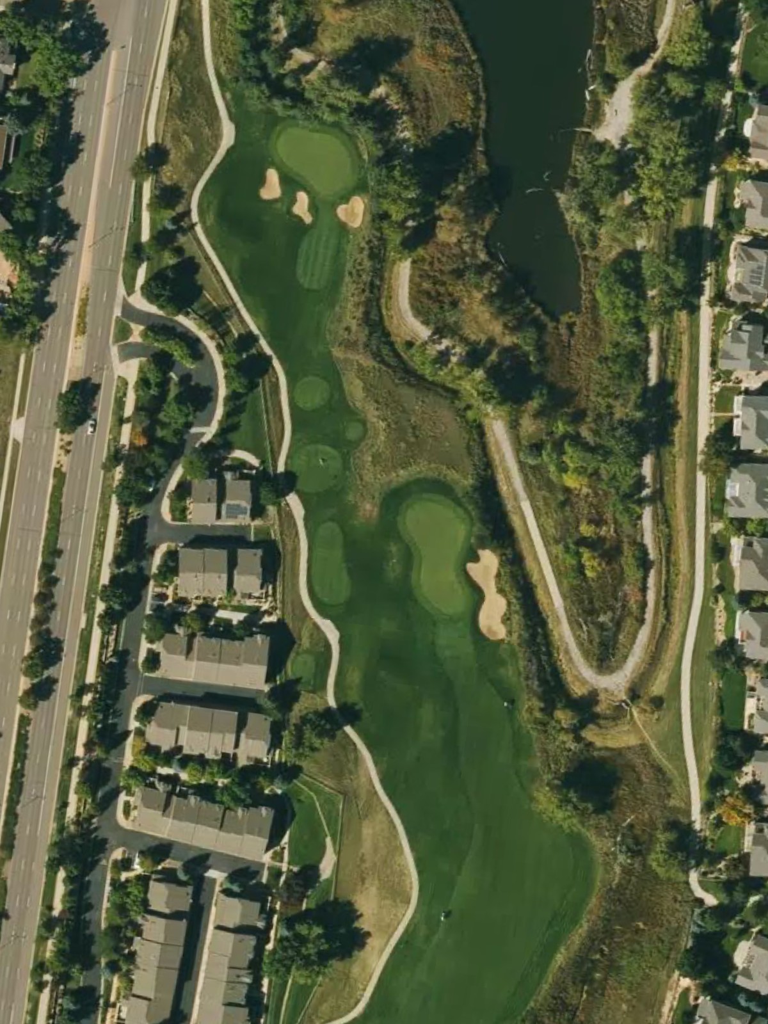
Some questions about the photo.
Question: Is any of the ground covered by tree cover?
Yes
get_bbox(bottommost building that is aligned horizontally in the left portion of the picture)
[130,786,276,861]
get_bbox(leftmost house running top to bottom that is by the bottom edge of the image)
[123,877,192,1024]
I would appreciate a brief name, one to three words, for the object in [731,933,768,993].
house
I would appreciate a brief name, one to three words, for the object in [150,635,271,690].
house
